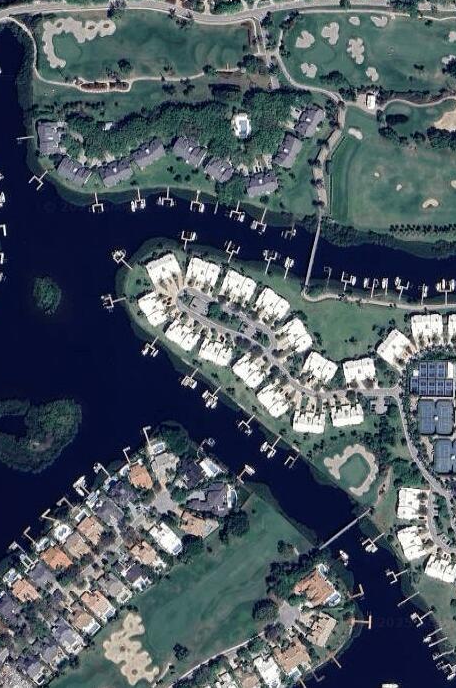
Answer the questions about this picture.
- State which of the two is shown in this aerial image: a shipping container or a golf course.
golf course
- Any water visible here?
Yes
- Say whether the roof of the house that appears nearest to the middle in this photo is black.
No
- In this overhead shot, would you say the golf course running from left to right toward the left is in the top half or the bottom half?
top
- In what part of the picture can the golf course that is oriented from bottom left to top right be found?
bottom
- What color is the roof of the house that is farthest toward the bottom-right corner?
white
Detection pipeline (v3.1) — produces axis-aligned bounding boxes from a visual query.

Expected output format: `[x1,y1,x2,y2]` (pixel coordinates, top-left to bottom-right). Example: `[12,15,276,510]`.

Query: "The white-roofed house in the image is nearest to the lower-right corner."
[425,547,456,582]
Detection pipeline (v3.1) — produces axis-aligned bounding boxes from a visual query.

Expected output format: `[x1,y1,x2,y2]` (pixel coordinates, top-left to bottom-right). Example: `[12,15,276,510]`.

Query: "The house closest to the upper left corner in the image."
[40,126,58,154]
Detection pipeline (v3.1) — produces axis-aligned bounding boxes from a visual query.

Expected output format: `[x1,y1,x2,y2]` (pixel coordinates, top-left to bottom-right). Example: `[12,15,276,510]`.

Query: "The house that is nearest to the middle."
[199,332,236,364]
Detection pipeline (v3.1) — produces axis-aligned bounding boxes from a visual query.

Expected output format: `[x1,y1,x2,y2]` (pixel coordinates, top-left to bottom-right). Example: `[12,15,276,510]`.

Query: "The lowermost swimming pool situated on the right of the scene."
[282,666,300,681]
